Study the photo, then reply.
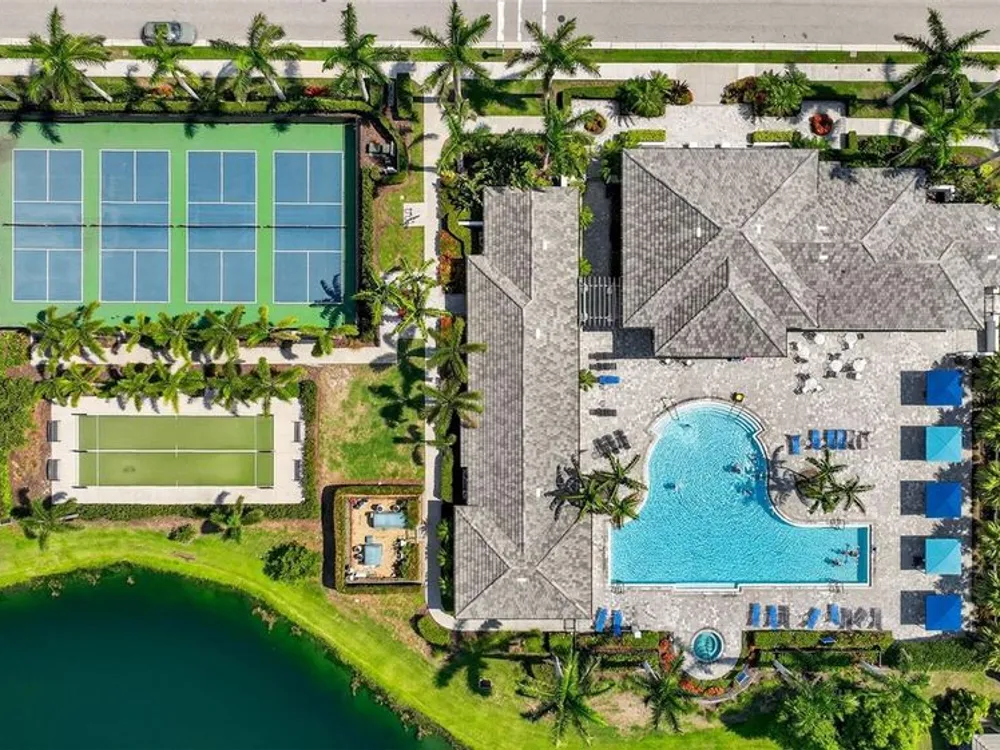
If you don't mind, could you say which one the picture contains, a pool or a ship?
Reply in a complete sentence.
Looking from above, you can make out a pool.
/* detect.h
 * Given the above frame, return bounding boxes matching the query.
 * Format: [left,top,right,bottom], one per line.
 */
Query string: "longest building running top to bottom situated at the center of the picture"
[454,181,594,618]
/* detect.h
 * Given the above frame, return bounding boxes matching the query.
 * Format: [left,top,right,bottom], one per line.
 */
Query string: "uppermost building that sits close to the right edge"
[620,146,1000,357]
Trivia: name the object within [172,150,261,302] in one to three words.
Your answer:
sports court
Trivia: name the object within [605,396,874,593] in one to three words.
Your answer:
swimming pool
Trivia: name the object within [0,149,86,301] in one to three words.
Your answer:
sports court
